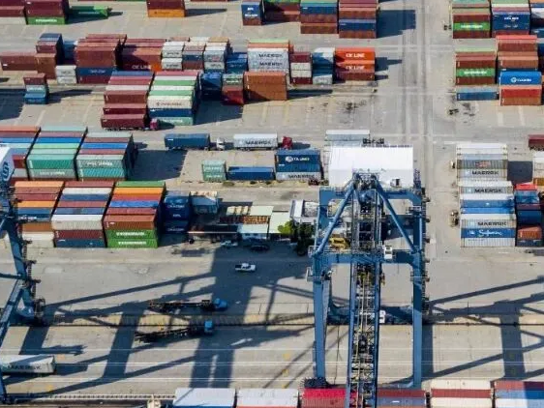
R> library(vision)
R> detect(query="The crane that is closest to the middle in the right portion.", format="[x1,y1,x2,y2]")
[297,141,436,408]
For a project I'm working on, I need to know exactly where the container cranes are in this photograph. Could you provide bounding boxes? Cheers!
[0,142,48,401]
[297,141,436,408]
